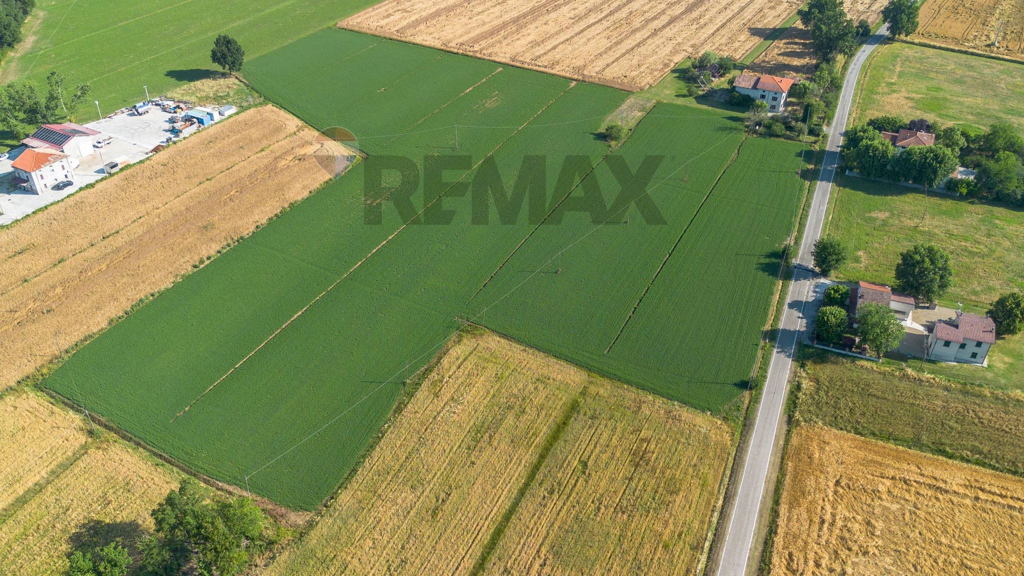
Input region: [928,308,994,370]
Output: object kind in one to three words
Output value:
house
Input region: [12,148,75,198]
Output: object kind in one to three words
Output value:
house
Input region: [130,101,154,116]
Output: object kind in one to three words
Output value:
vehicle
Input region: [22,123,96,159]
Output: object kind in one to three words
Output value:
shed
